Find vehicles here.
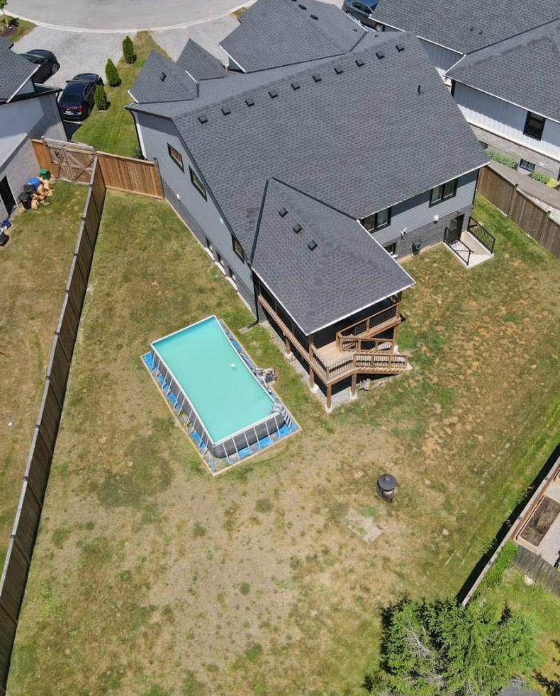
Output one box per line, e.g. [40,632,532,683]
[52,66,101,115]
[342,0,381,29]
[27,51,58,84]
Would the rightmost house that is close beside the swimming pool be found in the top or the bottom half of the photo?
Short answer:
top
